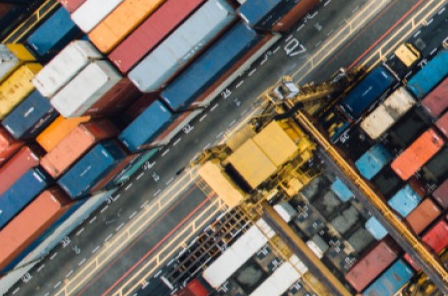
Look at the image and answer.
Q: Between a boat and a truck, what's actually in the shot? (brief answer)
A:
truck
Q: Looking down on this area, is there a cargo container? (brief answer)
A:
Yes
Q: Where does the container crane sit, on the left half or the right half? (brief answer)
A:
right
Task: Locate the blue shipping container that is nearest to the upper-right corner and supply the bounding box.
[407,42,448,96]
